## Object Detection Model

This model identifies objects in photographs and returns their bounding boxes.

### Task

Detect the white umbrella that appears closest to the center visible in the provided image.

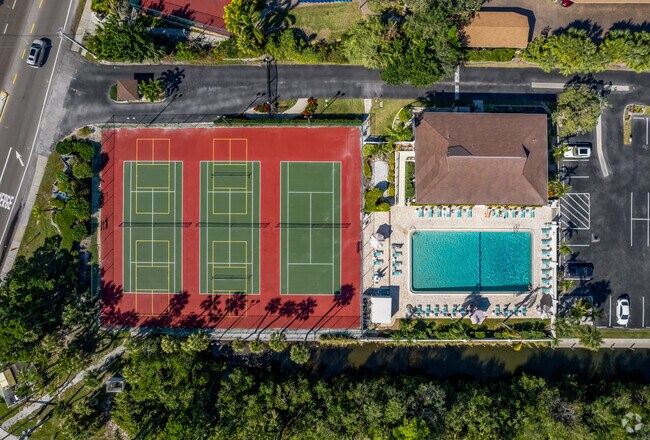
[369,233,383,248]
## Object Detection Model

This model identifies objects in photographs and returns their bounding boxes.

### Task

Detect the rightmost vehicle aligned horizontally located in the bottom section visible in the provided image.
[564,263,593,277]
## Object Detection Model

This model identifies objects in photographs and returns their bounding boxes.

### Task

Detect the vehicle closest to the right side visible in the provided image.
[614,298,630,325]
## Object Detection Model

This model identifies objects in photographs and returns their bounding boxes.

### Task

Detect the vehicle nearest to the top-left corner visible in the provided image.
[27,39,49,68]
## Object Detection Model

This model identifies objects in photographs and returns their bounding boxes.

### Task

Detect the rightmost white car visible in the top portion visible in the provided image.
[561,145,590,159]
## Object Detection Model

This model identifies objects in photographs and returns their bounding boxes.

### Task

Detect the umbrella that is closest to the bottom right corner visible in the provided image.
[536,304,550,318]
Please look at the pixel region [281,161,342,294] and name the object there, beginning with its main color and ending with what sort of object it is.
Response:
green tennis court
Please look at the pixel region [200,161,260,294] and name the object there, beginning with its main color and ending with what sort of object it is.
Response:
green tennis court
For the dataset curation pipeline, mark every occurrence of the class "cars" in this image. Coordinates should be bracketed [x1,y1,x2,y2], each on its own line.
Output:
[564,263,593,277]
[614,298,630,325]
[27,39,49,68]
[559,0,572,10]
[561,145,590,159]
